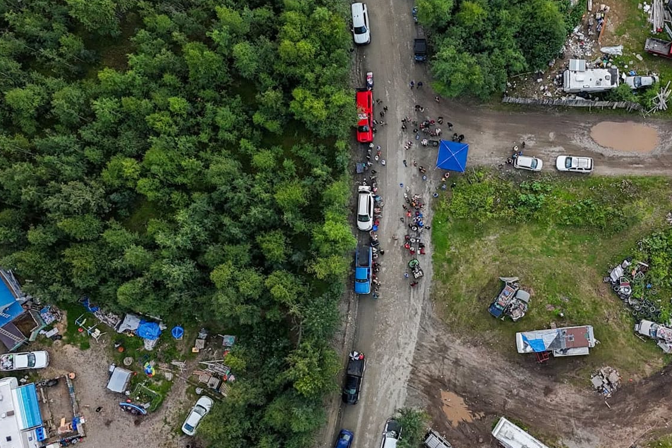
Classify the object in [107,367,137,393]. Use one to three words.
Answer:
shed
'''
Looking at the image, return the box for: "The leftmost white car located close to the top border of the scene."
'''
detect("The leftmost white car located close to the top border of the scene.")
[351,3,372,47]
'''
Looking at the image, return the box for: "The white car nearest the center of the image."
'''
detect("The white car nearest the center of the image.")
[355,189,375,230]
